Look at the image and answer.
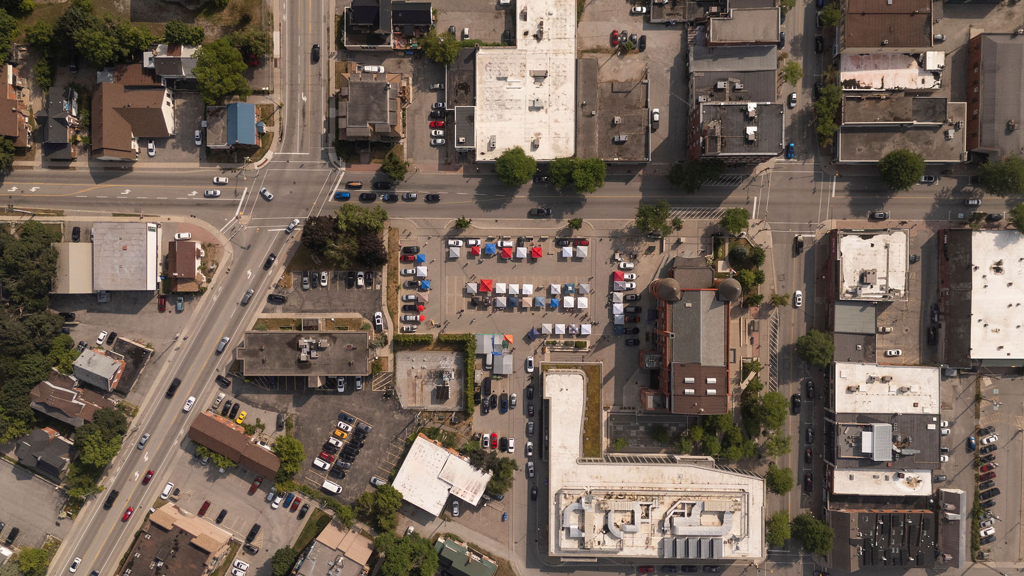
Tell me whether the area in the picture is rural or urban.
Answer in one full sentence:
It looks urban.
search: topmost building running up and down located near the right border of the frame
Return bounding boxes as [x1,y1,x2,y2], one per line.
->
[964,28,1024,167]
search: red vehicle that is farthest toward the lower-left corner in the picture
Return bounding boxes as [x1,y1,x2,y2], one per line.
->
[121,507,133,522]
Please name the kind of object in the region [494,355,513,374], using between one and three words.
tent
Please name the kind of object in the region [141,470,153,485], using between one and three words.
vehicle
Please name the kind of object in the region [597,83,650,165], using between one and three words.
building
